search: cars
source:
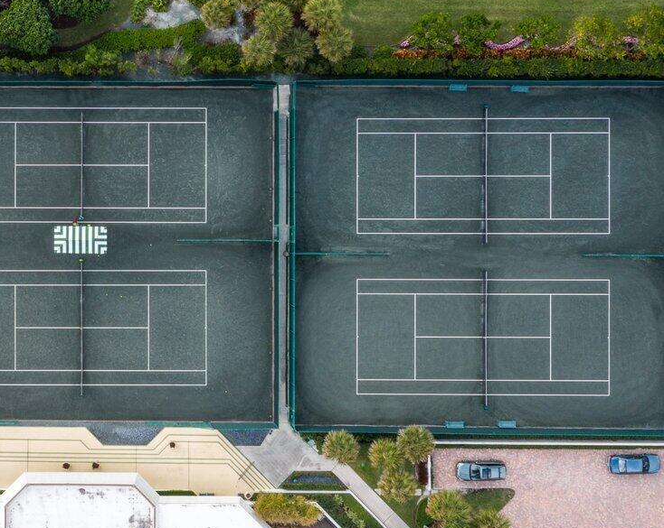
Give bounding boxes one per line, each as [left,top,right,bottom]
[454,459,507,485]
[605,452,658,477]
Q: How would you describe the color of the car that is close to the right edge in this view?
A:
blue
